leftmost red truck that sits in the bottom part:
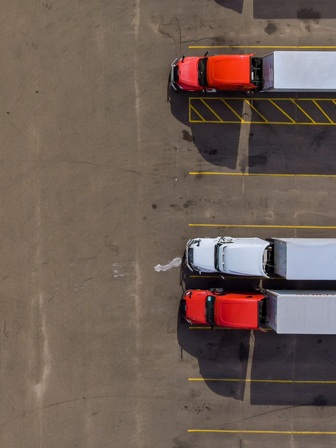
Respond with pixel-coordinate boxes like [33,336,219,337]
[180,287,289,333]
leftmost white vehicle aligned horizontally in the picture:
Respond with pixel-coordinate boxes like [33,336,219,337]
[184,234,286,280]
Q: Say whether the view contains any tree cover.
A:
No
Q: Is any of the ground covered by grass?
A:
No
